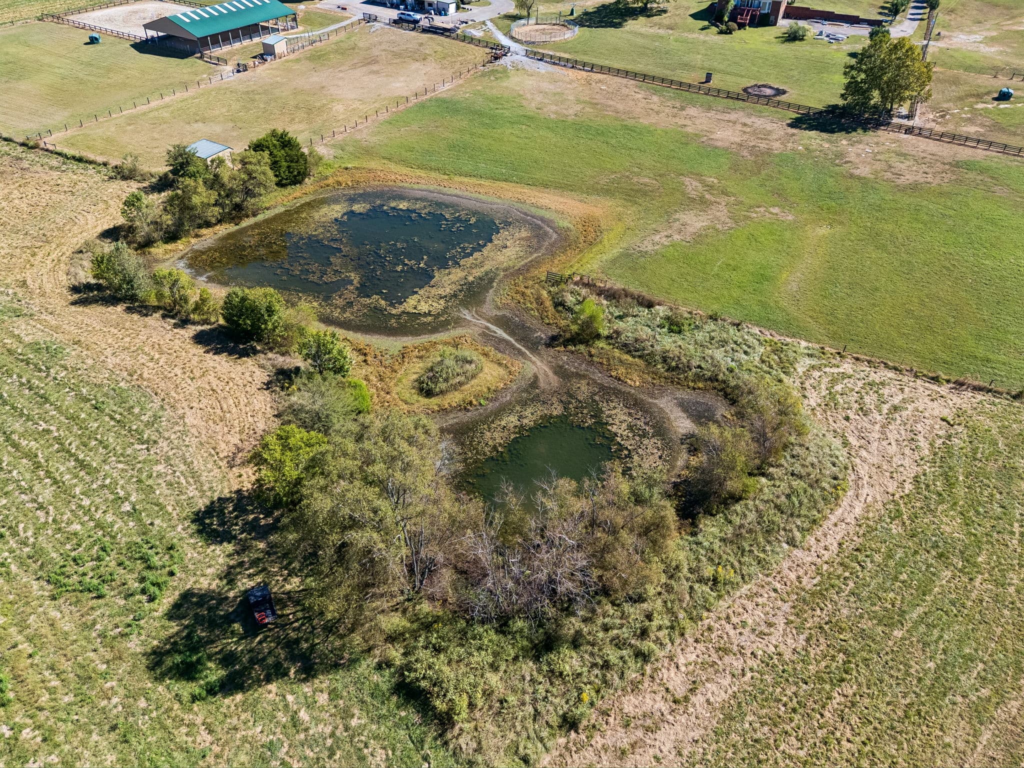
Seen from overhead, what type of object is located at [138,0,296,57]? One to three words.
barn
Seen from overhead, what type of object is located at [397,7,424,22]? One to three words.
vehicle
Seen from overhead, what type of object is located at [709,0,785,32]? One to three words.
house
